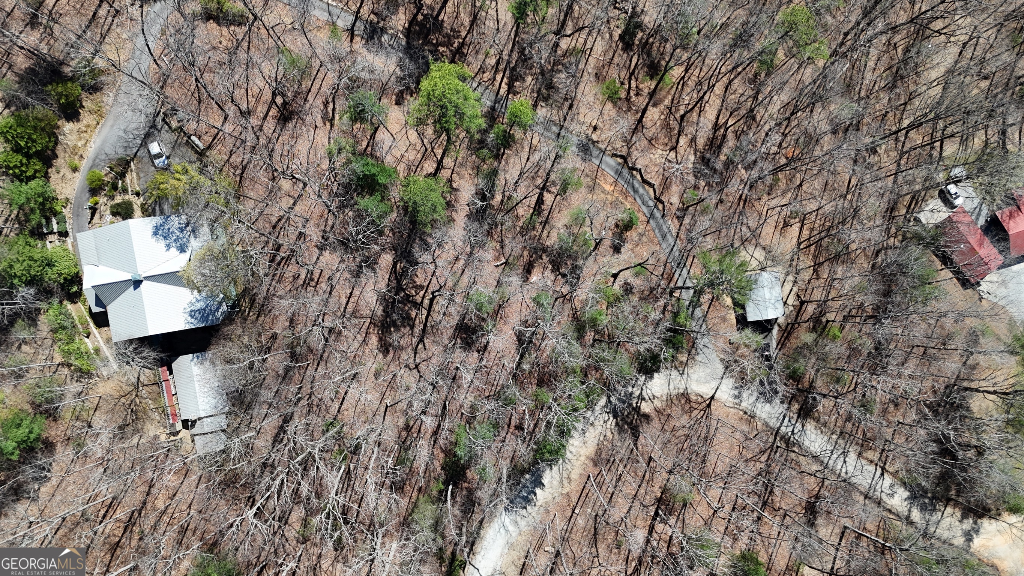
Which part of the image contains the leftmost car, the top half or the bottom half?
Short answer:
top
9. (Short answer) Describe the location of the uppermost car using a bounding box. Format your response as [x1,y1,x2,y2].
[146,139,167,168]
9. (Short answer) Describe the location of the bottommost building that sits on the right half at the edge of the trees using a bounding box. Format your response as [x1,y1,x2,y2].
[741,272,784,321]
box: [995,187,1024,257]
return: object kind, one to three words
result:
house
